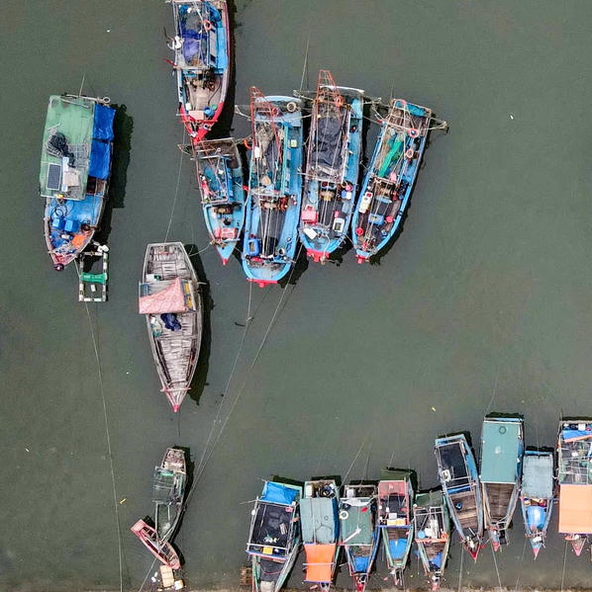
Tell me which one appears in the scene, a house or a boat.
boat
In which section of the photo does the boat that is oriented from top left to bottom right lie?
bottom left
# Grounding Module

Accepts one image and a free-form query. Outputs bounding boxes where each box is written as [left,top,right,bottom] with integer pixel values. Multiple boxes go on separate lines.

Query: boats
[434,433,482,562]
[163,0,229,146]
[377,472,415,589]
[235,87,310,288]
[130,519,181,572]
[480,416,524,554]
[41,82,118,270]
[294,70,380,263]
[153,447,188,550]
[190,138,247,264]
[557,419,592,556]
[353,82,446,266]
[338,484,379,592]
[414,491,451,591]
[139,241,207,411]
[520,450,557,561]
[235,478,302,592]
[300,477,342,592]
